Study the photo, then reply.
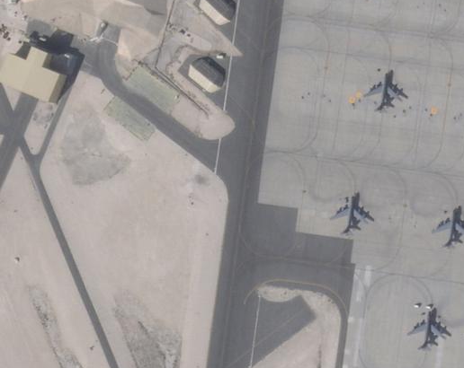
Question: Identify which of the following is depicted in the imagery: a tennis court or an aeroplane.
aeroplane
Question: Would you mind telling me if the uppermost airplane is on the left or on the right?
right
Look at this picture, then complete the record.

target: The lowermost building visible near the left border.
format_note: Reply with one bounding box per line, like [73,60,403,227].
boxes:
[0,47,69,103]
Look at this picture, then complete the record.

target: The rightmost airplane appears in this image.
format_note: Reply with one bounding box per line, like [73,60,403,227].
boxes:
[433,210,464,248]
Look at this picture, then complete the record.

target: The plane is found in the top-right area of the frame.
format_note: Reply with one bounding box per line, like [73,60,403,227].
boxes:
[365,74,401,112]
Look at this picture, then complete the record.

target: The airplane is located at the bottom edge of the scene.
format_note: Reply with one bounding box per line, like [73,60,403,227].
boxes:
[408,312,445,350]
